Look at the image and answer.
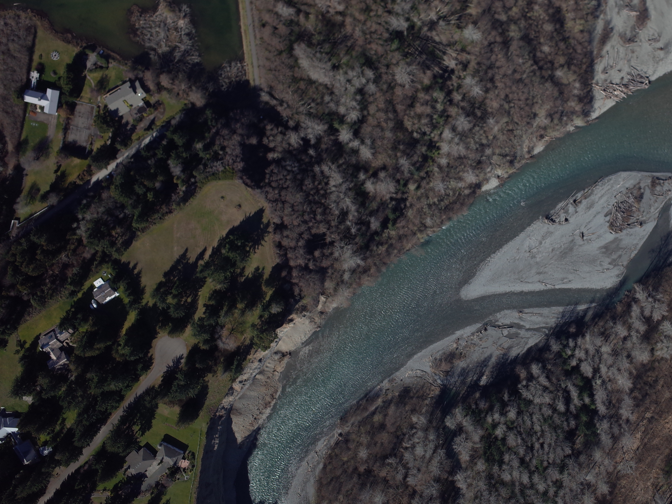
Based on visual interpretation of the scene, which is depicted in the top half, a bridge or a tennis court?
tennis court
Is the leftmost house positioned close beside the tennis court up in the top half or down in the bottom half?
top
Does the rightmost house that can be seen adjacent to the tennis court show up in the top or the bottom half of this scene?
top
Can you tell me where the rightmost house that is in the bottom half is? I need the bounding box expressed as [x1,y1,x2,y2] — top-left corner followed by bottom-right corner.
[124,440,187,478]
